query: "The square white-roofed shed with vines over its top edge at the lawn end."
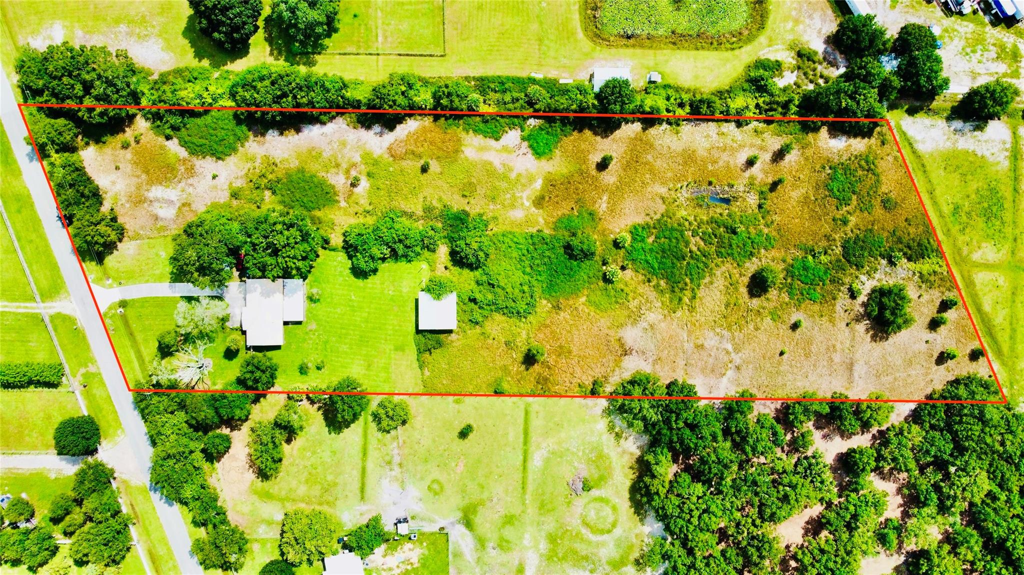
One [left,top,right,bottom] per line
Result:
[419,292,456,330]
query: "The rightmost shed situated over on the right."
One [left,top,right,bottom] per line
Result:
[876,51,901,72]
